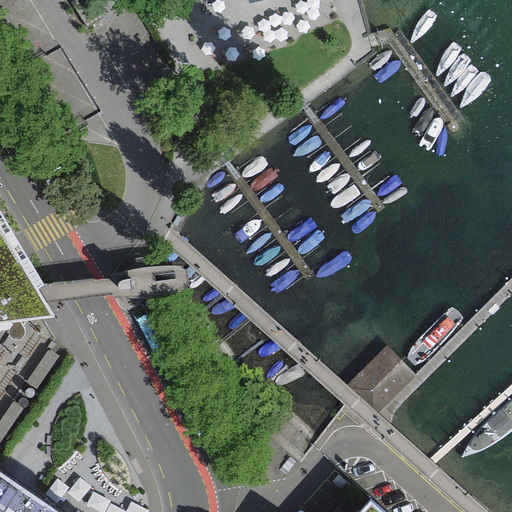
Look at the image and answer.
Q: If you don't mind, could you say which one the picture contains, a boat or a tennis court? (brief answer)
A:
boat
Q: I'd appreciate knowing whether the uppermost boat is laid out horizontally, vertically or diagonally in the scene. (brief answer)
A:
diagonally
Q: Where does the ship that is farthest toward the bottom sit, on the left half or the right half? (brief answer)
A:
right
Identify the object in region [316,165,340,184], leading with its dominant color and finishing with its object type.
white boat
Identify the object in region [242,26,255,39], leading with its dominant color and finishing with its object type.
white umbrella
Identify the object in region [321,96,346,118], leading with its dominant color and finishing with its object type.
blue boat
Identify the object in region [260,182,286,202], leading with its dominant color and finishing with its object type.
blue boat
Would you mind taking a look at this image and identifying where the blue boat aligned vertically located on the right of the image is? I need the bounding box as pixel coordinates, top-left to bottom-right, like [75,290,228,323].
[436,123,448,156]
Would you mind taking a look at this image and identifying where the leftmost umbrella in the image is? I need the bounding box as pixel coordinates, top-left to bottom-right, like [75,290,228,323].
[48,478,67,498]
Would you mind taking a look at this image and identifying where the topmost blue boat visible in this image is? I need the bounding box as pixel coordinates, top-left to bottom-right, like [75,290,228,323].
[374,60,402,82]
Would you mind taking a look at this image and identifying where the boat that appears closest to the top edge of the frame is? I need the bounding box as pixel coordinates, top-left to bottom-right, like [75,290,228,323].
[412,12,436,42]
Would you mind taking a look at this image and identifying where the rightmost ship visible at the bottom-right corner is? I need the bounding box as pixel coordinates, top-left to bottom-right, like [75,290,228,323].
[462,400,512,458]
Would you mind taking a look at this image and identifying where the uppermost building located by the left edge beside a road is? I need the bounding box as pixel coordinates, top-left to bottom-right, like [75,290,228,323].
[0,220,54,326]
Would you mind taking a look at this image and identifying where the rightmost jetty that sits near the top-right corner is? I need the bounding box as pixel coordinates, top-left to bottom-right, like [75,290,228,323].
[390,32,465,130]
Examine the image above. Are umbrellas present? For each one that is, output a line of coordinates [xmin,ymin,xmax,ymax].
[258,18,271,32]
[295,0,309,14]
[270,14,282,26]
[297,20,310,32]
[242,26,255,39]
[252,46,266,60]
[128,501,147,512]
[109,503,128,512]
[282,11,296,25]
[306,0,320,8]
[225,46,239,60]
[308,7,320,20]
[218,26,232,40]
[275,28,288,41]
[48,478,67,498]
[262,29,276,42]
[212,0,225,12]
[68,478,90,502]
[86,494,110,512]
